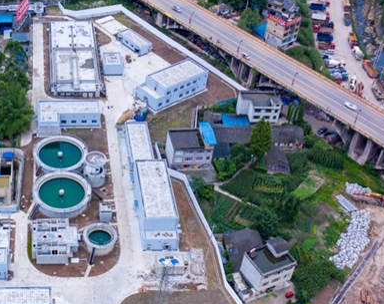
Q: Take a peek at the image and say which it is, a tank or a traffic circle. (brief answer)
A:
tank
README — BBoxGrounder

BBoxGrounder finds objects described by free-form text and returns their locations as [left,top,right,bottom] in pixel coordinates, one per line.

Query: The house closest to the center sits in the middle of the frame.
[166,125,218,170]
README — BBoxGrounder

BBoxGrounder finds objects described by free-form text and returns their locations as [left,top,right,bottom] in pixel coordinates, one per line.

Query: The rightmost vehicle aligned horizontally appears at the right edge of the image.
[354,189,384,204]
